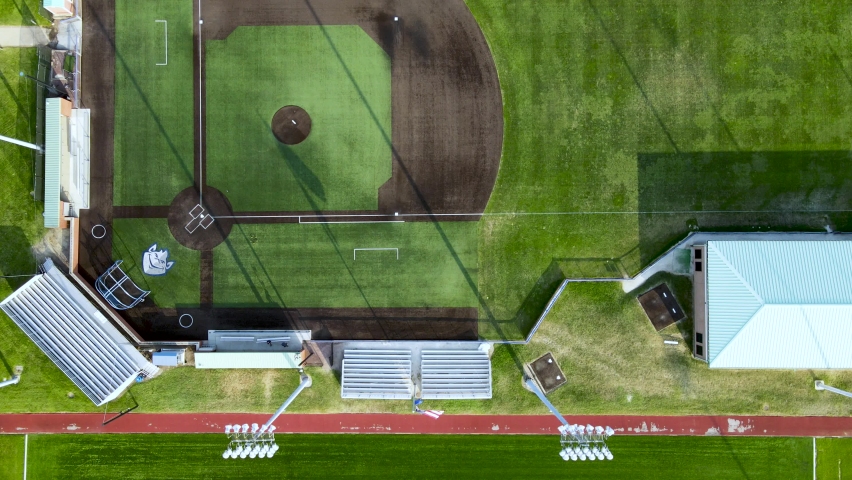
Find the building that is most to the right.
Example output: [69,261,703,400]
[692,240,852,369]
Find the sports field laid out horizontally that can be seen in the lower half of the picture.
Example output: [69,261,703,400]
[26,434,814,480]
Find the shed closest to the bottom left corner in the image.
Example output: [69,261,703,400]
[152,349,182,365]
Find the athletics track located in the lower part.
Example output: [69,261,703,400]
[0,414,852,436]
